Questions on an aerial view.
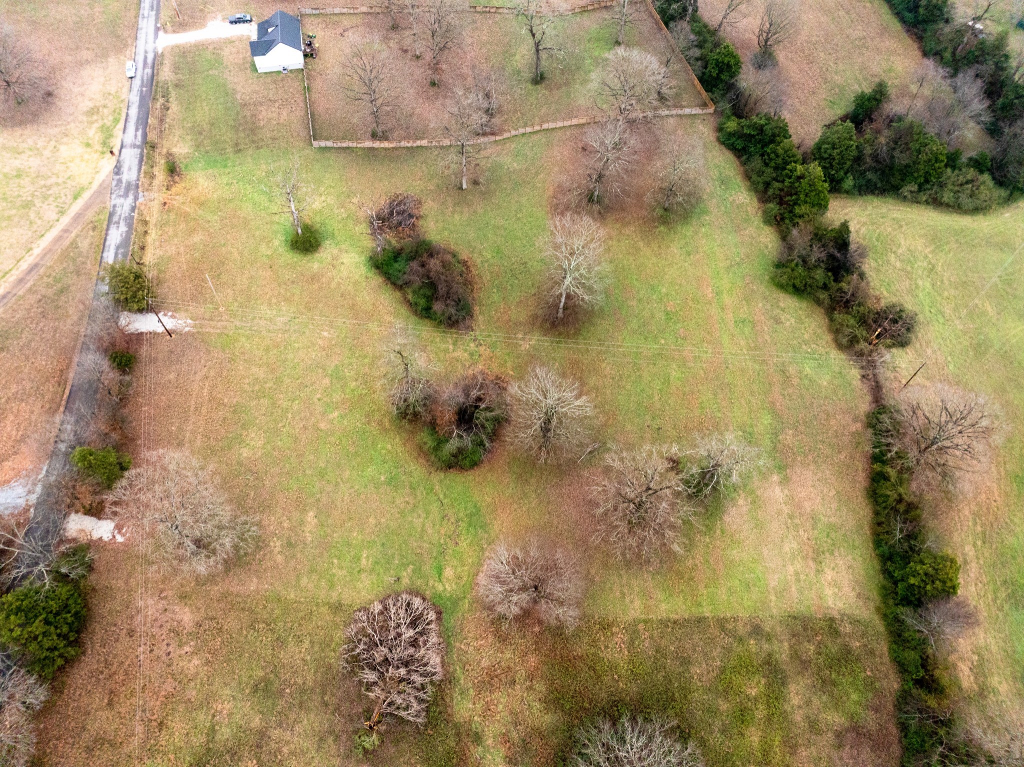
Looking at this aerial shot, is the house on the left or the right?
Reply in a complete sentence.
The house appears in the left half of the scene.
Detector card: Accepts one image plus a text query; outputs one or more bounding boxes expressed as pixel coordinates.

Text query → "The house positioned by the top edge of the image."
[249,8,303,72]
